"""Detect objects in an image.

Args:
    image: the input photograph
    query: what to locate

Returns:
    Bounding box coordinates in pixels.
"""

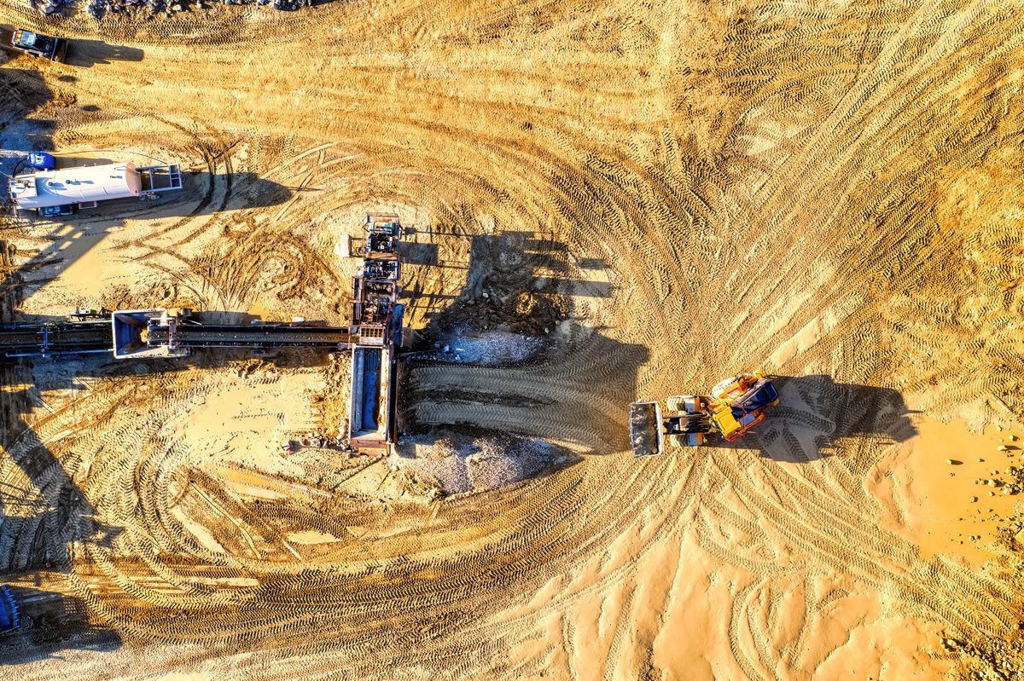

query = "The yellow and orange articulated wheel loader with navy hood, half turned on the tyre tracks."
[628,367,783,454]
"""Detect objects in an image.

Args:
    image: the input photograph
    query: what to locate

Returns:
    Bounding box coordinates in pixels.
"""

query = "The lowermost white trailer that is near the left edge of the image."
[0,163,183,213]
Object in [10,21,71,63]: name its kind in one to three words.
work vehicle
